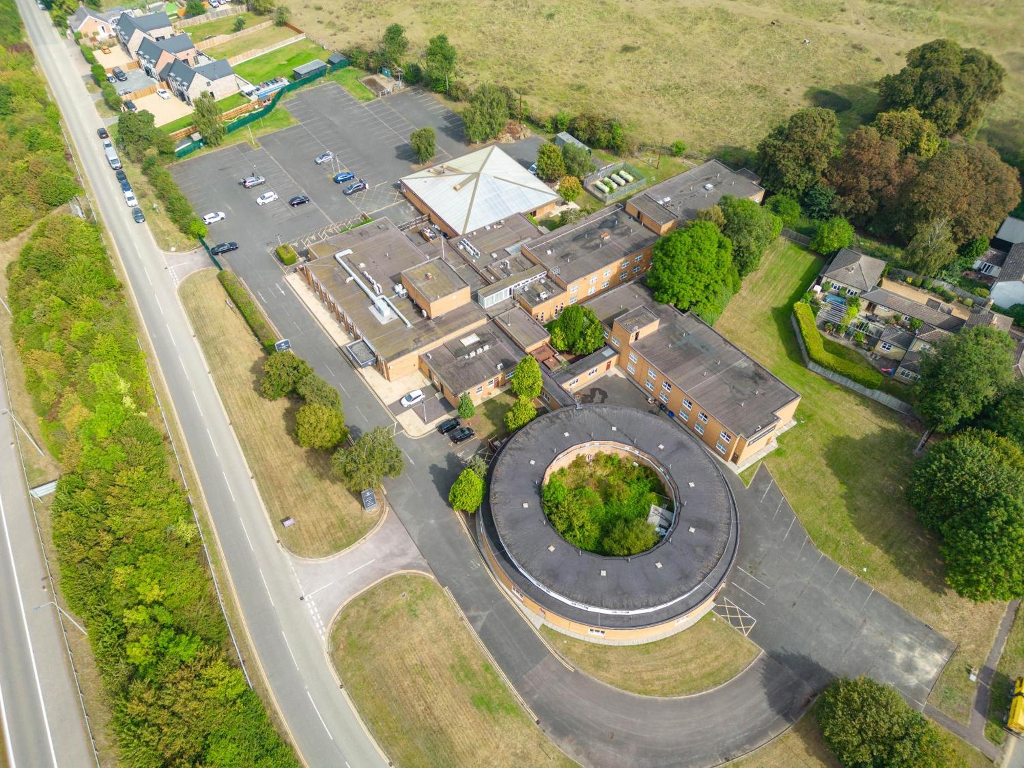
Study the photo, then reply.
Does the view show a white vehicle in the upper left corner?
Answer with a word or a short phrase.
Yes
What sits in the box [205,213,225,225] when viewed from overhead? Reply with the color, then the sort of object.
white vehicle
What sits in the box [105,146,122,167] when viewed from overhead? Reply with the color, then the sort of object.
white vehicle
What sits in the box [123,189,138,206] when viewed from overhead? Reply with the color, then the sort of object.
white car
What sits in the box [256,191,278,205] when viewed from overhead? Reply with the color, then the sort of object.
white car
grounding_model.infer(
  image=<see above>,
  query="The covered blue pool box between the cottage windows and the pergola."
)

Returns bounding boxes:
[821,291,848,309]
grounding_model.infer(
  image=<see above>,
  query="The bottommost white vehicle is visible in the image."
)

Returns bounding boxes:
[398,387,427,407]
